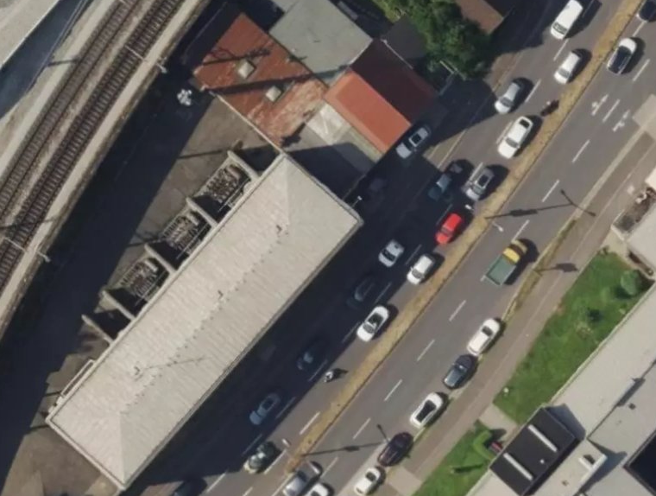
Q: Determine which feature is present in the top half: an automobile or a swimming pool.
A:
automobile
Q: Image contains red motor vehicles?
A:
Yes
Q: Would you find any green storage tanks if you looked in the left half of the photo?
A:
No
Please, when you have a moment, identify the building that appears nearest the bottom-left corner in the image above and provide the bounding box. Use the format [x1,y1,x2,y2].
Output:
[46,150,364,490]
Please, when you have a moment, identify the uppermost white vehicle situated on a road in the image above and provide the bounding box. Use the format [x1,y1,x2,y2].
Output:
[551,0,584,39]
